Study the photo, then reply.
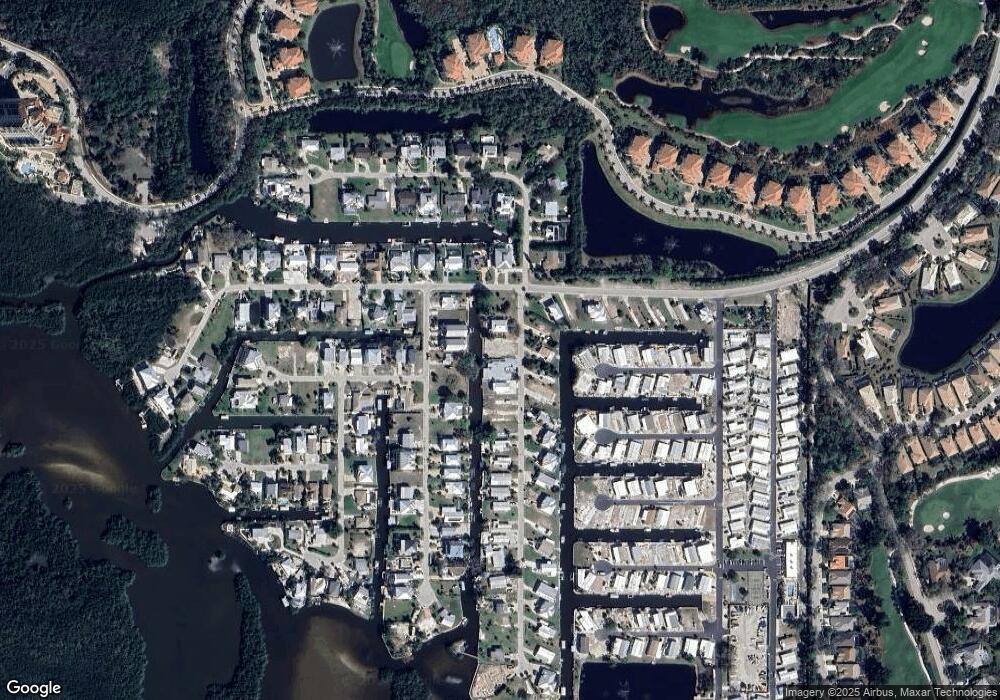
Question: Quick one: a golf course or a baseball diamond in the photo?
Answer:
golf course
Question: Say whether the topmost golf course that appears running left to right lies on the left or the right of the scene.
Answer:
right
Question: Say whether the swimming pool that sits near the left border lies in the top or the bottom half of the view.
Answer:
top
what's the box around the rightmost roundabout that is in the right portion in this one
[916,215,953,257]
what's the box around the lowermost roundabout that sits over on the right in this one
[823,282,867,324]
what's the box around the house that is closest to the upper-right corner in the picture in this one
[928,95,959,124]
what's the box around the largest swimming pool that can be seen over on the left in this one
[18,157,60,180]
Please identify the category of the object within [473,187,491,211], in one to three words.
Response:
house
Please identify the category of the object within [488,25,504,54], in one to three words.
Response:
swimming pool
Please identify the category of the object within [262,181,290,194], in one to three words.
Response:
house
